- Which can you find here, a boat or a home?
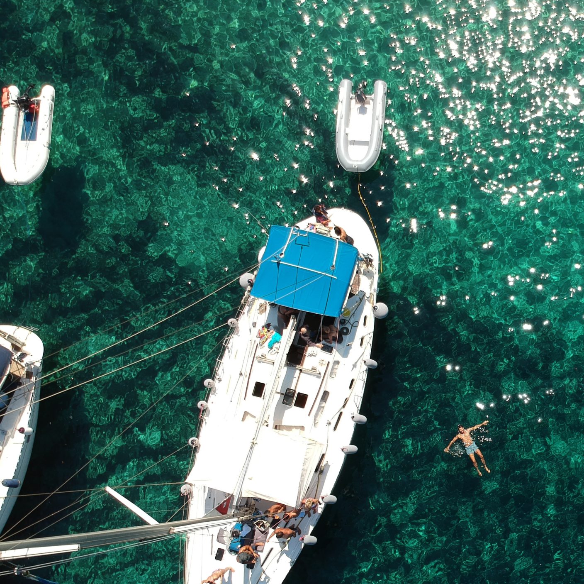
boat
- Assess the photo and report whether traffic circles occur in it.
No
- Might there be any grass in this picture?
No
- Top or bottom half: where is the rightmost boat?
top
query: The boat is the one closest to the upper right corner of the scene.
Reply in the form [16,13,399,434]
[335,78,388,171]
